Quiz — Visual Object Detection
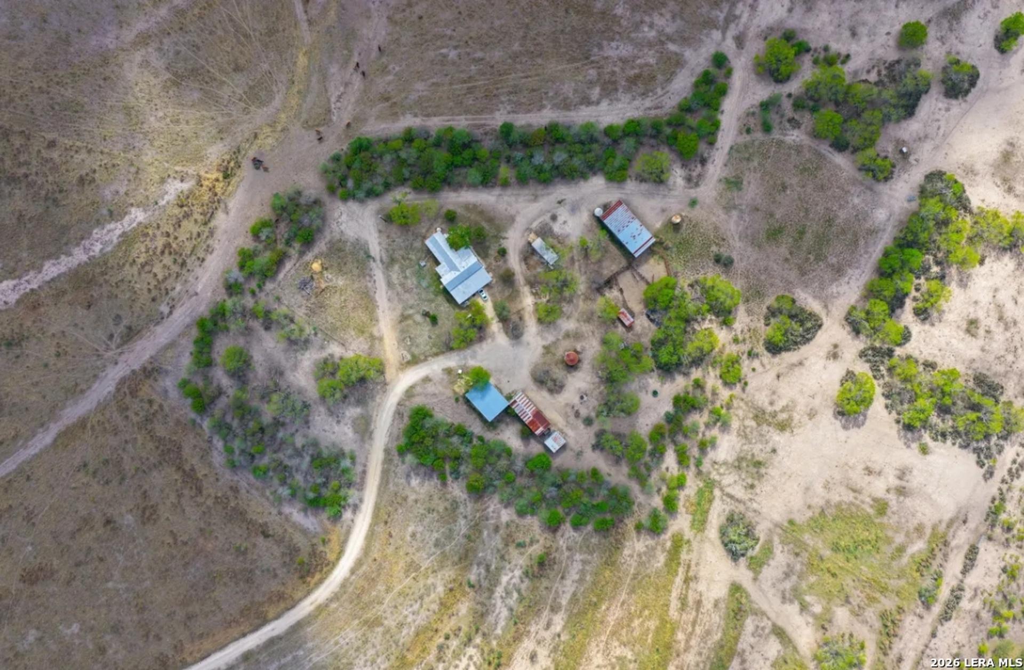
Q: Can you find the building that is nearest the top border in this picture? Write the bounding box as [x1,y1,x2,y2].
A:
[599,200,656,257]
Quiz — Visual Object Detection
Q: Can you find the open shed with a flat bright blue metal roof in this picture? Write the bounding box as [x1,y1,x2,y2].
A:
[465,380,509,421]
